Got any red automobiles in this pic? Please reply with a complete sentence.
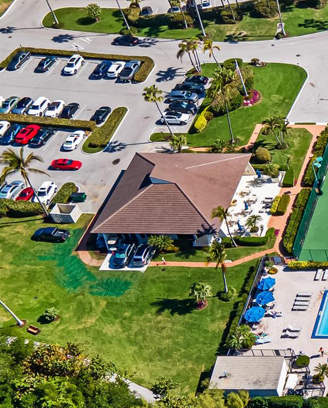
Yes, there is a red automobile in the image.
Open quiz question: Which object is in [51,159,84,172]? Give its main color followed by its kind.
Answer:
red vehicle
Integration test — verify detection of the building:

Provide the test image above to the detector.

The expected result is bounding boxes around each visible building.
[91,152,273,252]
[207,355,291,400]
